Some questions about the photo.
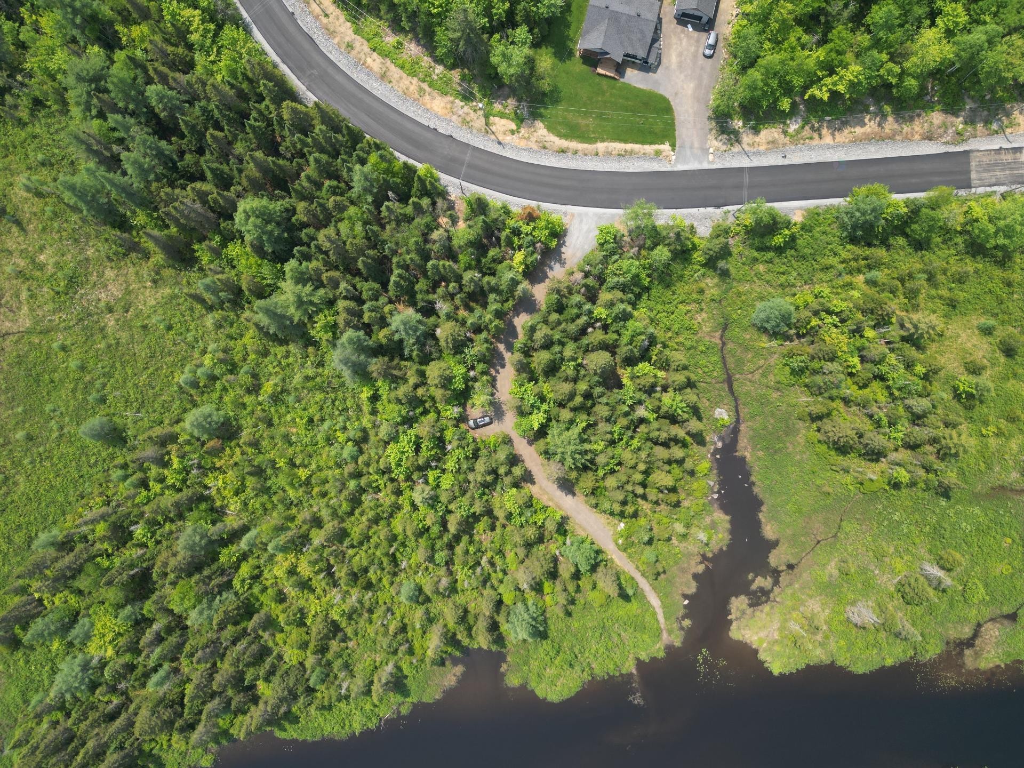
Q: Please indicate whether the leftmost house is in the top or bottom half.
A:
top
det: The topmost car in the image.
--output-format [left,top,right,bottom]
[703,30,718,59]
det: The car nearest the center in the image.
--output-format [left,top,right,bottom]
[468,416,494,429]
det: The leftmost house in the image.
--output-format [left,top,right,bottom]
[577,0,659,81]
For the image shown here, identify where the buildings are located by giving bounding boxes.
[577,0,659,81]
[674,0,717,27]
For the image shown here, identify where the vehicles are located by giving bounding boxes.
[703,30,718,59]
[468,416,494,429]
